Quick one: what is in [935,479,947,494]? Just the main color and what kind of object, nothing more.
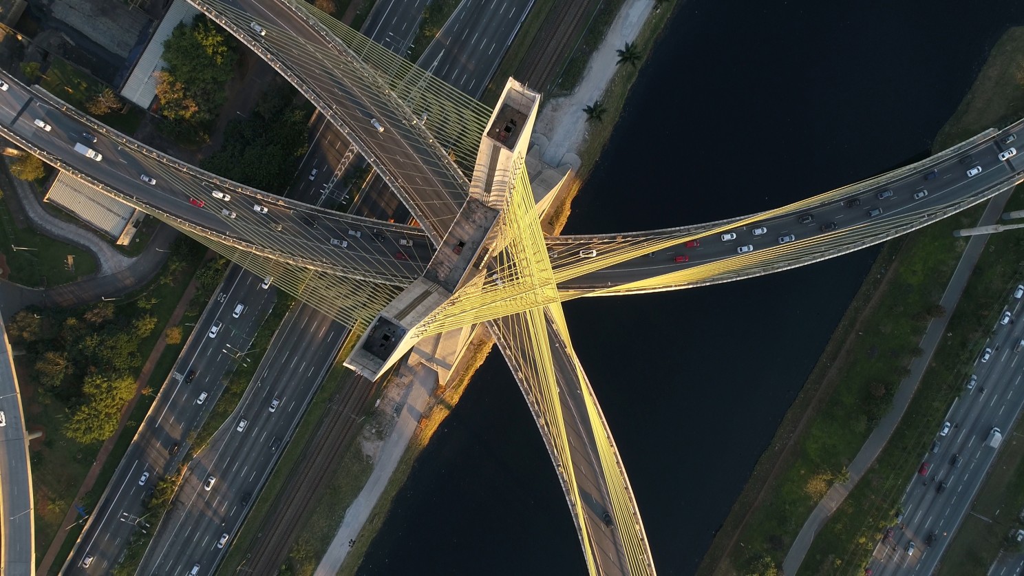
black vehicle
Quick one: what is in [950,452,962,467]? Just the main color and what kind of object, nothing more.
black vehicle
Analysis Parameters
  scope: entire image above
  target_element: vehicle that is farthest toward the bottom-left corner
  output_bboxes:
[83,553,95,568]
